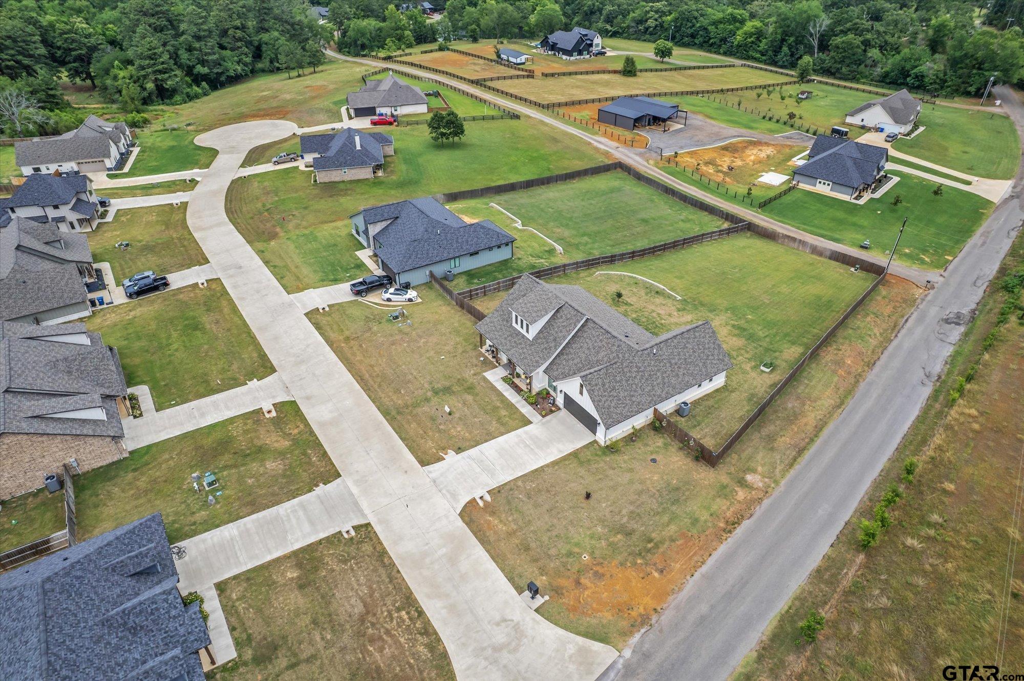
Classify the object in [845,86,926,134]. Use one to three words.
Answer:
house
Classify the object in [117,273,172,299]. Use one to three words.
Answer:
truck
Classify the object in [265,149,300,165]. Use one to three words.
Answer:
vehicle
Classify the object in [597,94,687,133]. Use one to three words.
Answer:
barn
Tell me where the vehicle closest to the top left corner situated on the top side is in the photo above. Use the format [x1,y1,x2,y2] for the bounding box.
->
[96,193,114,206]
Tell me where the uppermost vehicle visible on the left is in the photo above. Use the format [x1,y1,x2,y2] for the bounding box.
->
[367,113,398,125]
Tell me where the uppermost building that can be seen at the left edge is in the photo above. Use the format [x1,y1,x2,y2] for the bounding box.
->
[15,108,138,177]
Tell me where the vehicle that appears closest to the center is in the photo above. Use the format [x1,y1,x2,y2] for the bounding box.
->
[379,286,420,301]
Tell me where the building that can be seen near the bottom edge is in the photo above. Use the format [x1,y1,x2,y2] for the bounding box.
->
[0,511,220,681]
